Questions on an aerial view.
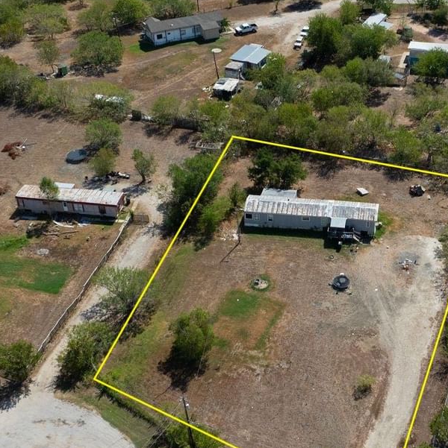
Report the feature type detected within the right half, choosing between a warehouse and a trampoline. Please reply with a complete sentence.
Visible within the right half is a trampoline.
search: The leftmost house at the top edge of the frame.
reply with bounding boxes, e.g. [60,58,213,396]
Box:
[144,8,220,46]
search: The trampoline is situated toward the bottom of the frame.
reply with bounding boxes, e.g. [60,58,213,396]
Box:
[332,274,350,290]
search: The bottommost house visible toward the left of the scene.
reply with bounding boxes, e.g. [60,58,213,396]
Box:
[15,180,126,220]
